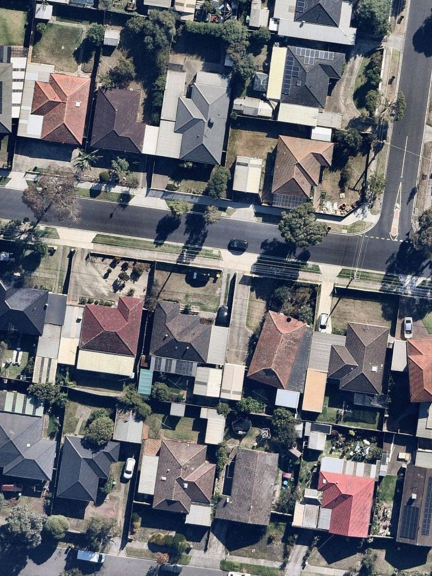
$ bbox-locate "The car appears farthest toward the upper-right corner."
[227,237,251,249]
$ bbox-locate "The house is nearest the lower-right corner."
[397,466,432,546]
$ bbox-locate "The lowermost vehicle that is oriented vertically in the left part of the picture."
[123,457,136,481]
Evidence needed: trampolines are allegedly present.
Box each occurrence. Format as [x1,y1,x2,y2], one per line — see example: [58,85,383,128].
[232,417,252,437]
